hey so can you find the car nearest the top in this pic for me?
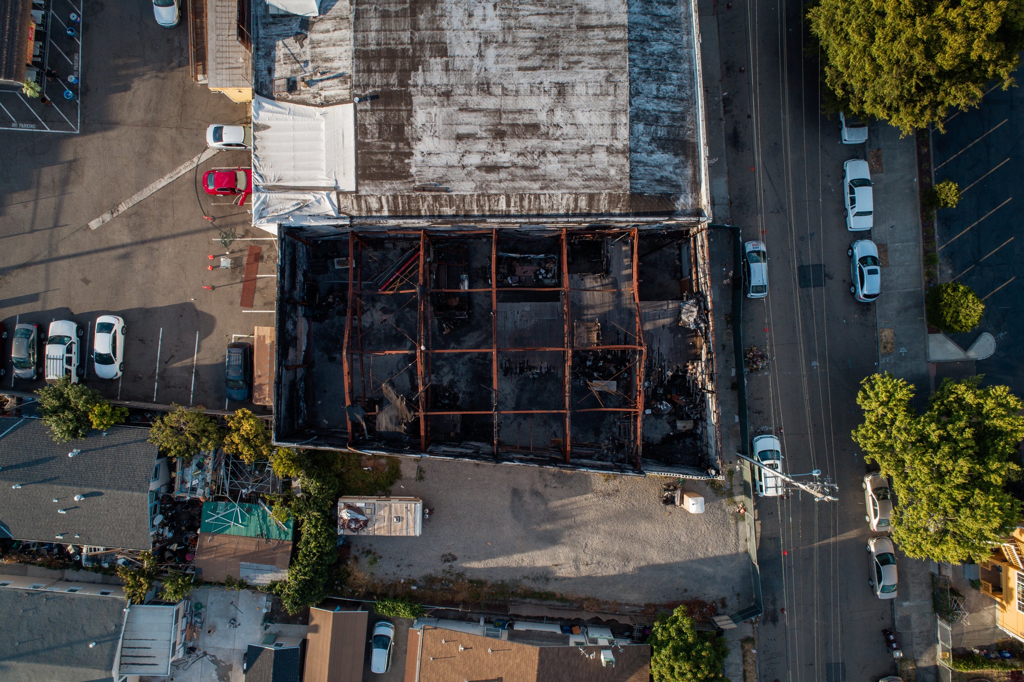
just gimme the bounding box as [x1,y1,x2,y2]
[151,0,184,31]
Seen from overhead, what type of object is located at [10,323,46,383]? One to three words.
car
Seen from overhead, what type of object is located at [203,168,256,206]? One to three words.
car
